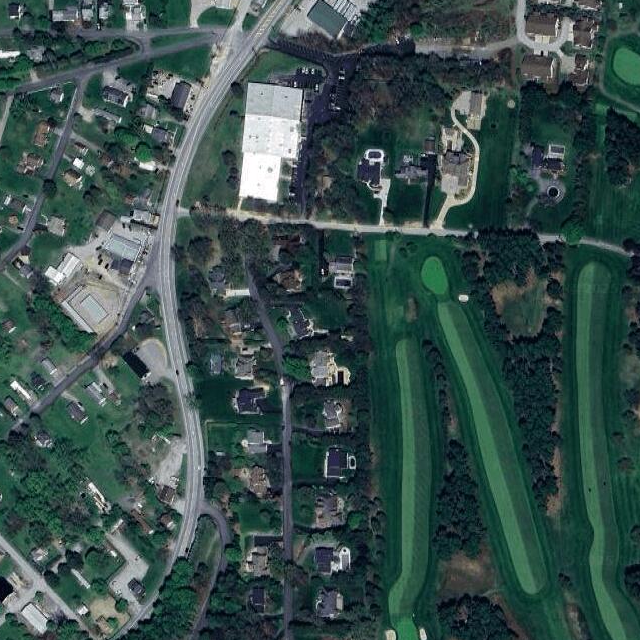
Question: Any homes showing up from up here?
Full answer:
Yes, the image includes a home.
